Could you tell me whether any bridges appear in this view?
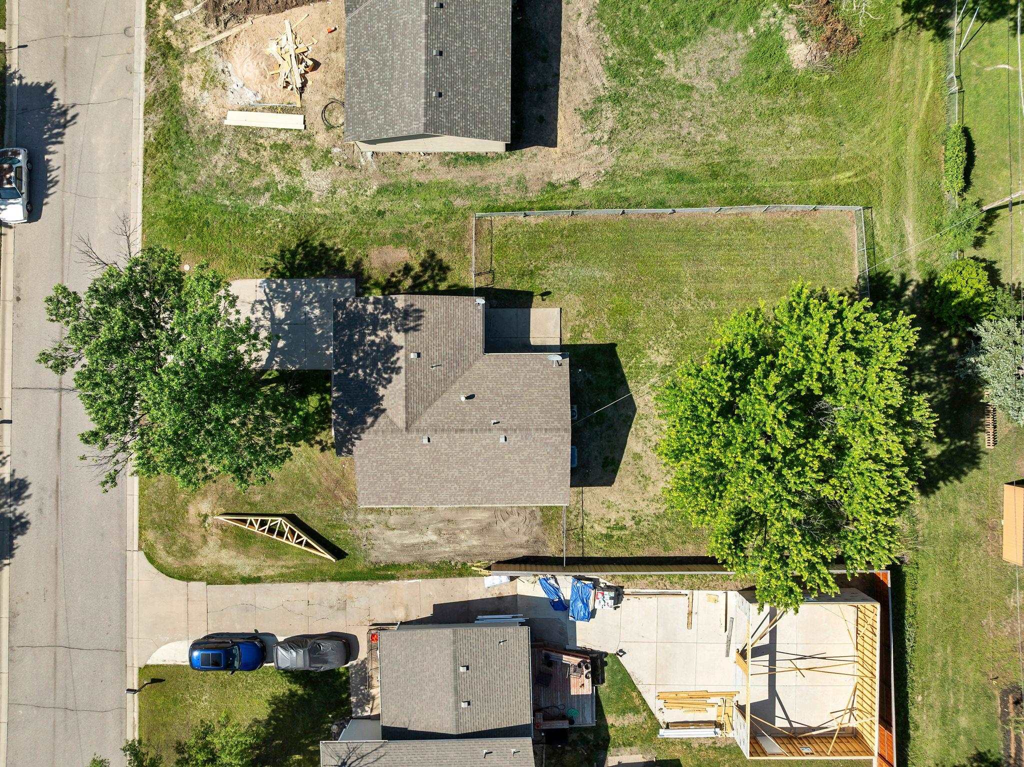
No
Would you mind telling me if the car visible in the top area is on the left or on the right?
left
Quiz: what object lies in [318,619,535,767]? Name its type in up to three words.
house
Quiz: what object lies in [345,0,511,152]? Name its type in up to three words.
house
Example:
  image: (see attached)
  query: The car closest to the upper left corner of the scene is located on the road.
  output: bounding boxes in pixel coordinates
[0,148,36,225]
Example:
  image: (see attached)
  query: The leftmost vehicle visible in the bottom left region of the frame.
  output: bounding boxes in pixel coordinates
[189,637,267,676]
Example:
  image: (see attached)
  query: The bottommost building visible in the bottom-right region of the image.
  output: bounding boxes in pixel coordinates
[735,589,879,758]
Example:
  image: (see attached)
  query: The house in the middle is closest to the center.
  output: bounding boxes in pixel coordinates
[330,294,571,508]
